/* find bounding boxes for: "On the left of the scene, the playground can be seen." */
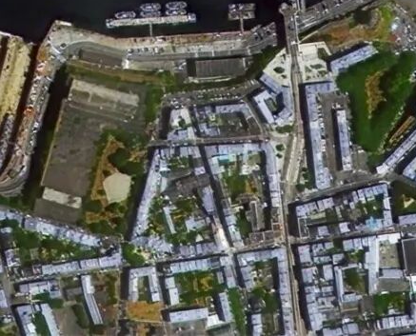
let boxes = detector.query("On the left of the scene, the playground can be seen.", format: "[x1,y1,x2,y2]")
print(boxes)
[102,173,131,204]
